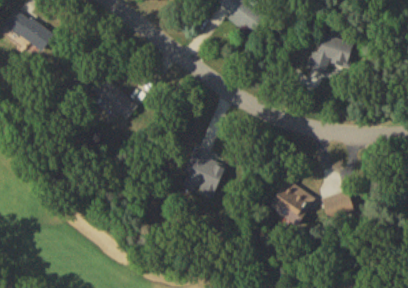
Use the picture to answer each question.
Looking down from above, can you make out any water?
No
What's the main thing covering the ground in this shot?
trees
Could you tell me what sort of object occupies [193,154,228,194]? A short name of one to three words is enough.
house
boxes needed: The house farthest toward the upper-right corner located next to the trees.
[312,39,354,67]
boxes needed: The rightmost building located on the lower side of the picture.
[322,195,354,218]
